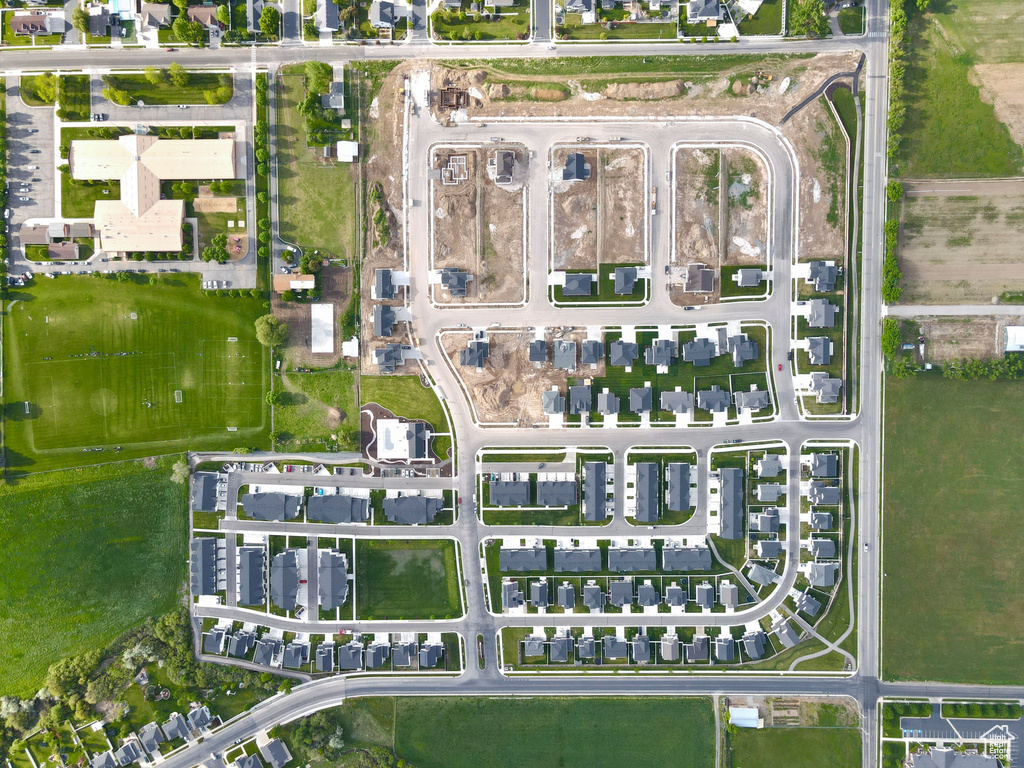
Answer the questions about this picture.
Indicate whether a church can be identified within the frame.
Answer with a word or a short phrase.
Yes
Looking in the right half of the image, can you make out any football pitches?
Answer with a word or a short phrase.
No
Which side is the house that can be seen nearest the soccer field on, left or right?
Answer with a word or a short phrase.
left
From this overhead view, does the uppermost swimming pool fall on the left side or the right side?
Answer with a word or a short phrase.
left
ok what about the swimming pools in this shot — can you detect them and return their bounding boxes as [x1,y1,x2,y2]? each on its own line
[385,428,394,451]
[108,0,131,20]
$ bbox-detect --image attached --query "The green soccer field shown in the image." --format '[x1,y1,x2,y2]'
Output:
[2,273,272,479]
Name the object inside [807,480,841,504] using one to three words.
house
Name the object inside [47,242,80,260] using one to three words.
building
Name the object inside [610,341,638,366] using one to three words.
house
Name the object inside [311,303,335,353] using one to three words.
barn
